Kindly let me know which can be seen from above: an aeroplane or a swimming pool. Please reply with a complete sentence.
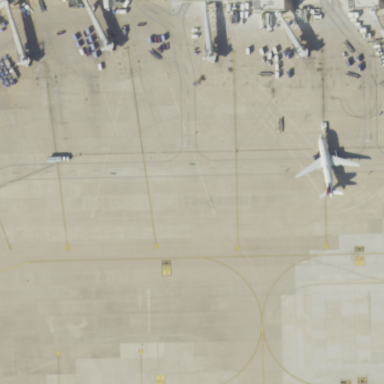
Looking from above, you can make out an aeroplane.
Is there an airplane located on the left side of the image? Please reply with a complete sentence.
No, there's no airplane to be seen on the left side of the image.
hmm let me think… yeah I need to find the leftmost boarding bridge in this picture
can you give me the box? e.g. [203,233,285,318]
[4,0,34,66]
